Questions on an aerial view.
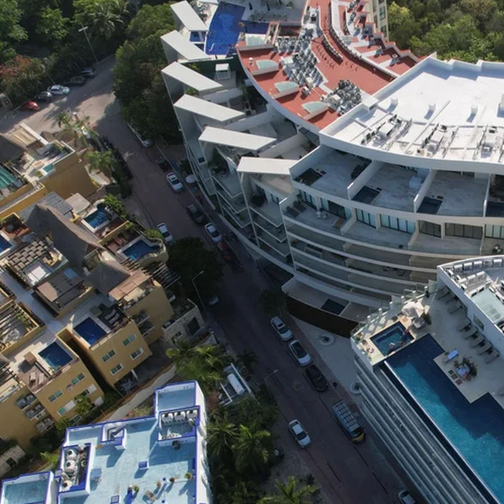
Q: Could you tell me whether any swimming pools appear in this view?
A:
Yes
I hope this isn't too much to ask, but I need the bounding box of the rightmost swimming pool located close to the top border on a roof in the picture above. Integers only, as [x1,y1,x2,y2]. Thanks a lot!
[206,1,269,52]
